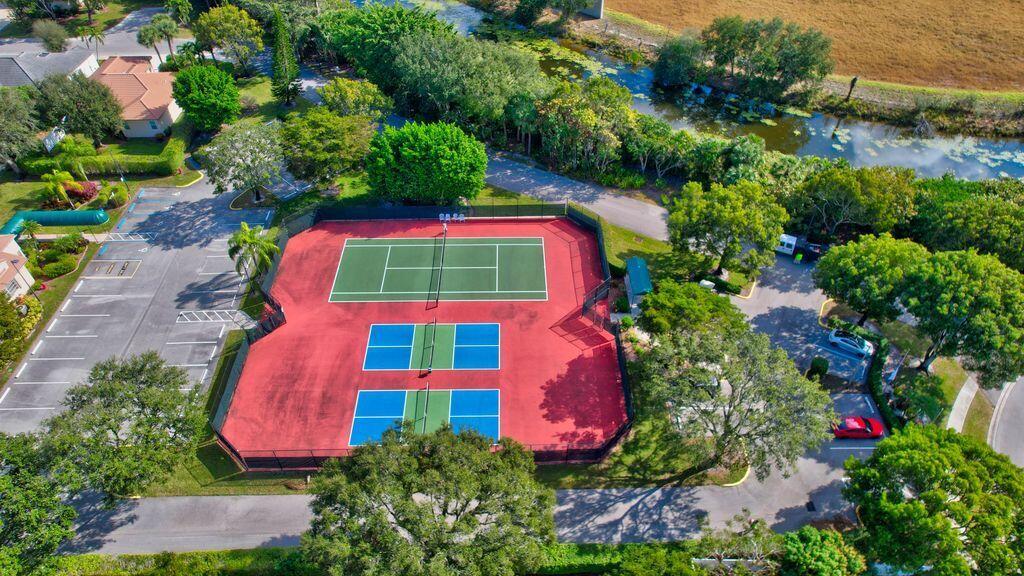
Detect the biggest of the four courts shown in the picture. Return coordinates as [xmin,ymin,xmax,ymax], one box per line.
[217,215,631,471]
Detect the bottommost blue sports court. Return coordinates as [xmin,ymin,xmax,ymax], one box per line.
[348,389,500,446]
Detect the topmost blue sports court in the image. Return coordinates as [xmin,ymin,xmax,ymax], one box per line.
[363,323,500,370]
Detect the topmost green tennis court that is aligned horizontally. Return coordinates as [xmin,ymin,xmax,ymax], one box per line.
[329,237,548,301]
